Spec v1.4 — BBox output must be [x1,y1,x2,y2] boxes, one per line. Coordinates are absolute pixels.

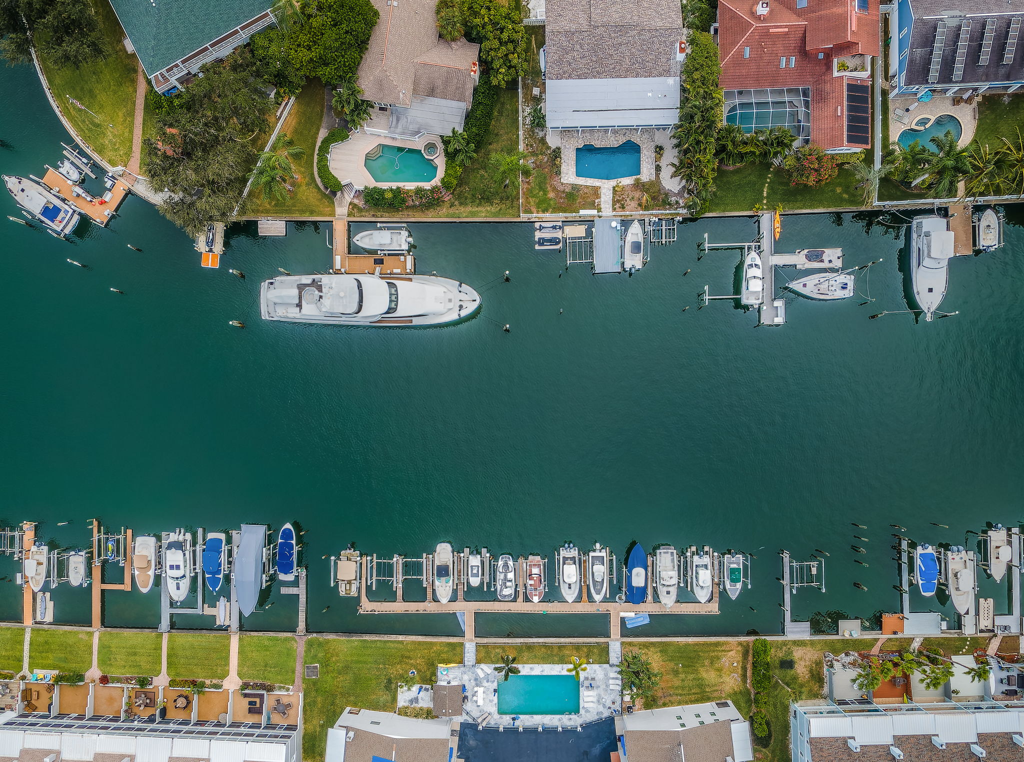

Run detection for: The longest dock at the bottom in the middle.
[359,552,720,638]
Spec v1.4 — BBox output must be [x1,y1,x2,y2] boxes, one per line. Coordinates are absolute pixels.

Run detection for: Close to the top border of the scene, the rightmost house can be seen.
[888,0,1024,103]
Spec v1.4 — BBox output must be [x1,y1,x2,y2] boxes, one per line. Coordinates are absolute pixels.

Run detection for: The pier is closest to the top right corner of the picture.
[948,205,973,255]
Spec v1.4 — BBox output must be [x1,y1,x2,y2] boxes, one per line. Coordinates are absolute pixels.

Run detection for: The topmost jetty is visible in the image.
[42,169,133,227]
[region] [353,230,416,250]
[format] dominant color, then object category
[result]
white boat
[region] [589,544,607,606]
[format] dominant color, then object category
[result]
white boat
